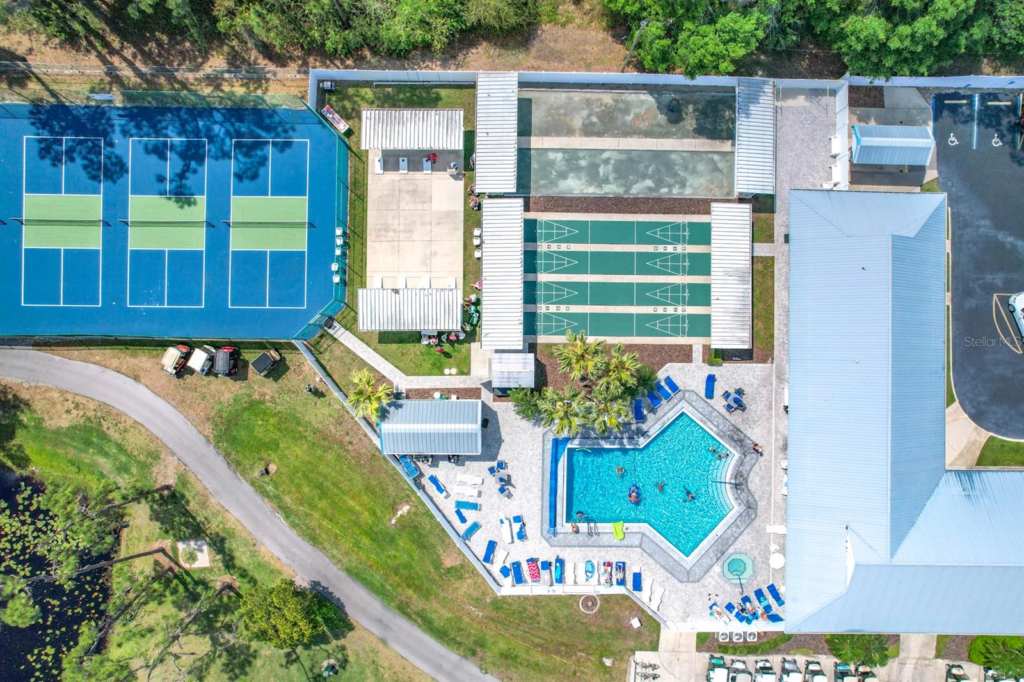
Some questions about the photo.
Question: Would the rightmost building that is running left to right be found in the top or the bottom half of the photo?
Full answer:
Seen from above, the rightmost building that is running left to right lies in the top half of the view.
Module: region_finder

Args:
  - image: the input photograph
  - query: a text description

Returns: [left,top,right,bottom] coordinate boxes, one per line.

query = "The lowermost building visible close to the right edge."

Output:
[779,190,1024,637]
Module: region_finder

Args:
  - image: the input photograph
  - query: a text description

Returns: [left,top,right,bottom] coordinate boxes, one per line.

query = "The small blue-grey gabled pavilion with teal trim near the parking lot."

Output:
[848,124,939,168]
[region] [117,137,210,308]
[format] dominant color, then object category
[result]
blue sports court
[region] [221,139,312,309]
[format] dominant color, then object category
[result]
blue sports court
